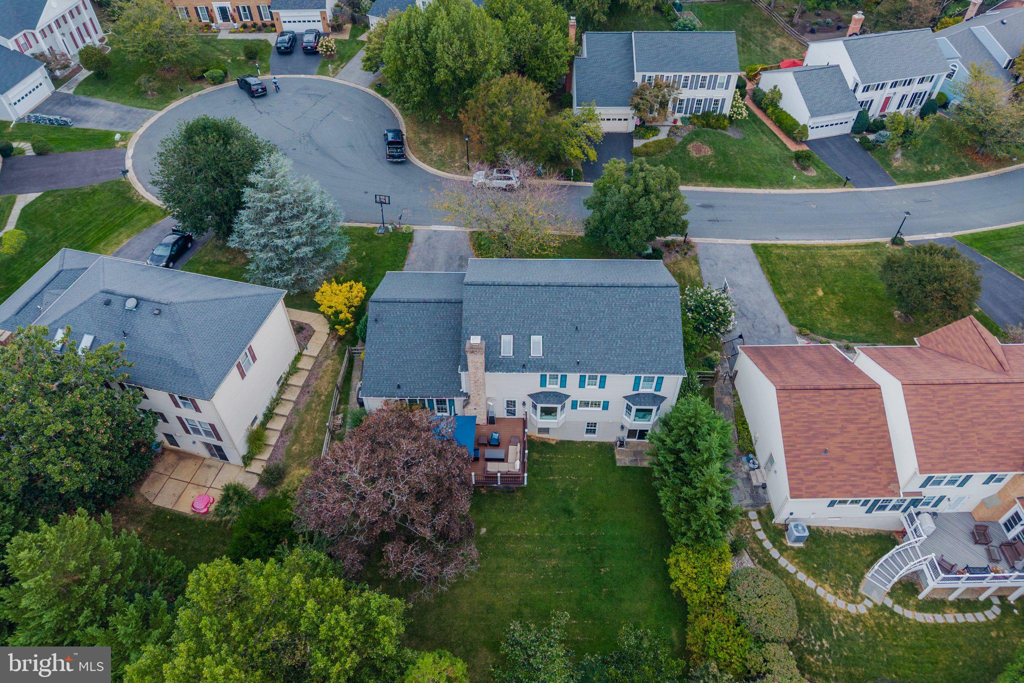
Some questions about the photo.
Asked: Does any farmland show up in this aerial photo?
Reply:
No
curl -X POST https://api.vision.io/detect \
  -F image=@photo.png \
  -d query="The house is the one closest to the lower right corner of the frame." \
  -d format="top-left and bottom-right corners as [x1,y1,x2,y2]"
[739,306,1024,539]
